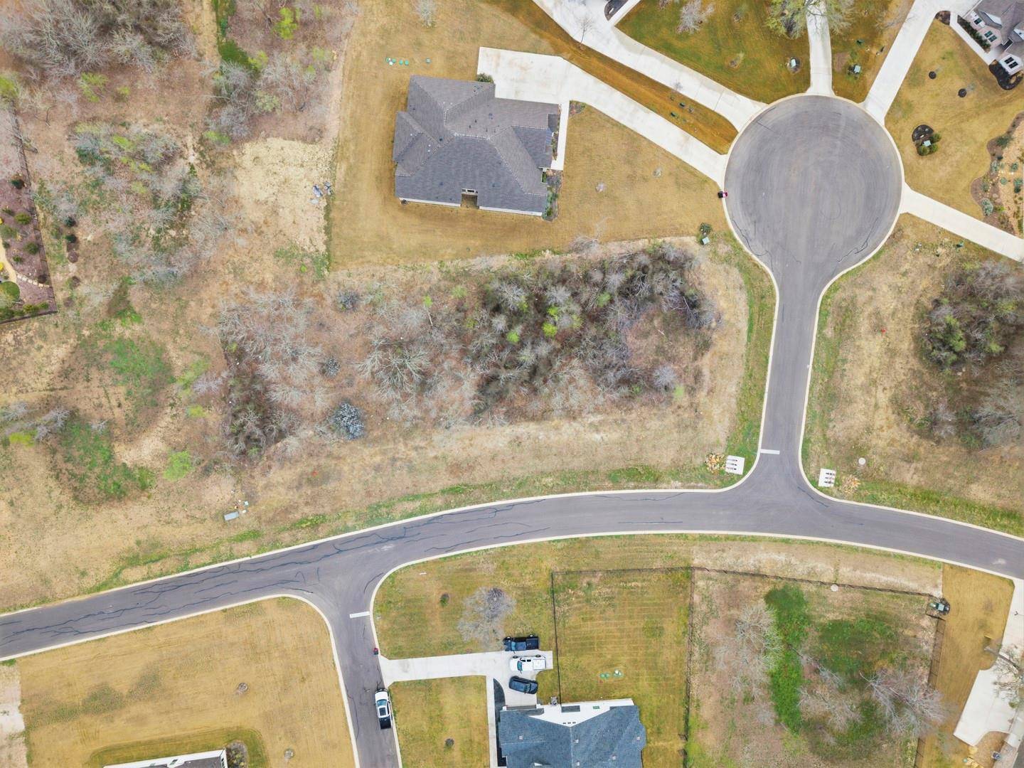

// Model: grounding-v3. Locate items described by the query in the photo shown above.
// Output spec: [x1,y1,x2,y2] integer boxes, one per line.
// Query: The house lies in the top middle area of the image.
[393,75,559,215]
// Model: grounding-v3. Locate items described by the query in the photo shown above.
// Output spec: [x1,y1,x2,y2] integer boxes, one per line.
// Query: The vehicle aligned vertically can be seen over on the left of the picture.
[373,689,392,731]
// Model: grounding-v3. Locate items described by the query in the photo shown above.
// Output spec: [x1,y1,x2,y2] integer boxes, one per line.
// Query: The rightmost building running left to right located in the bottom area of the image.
[498,698,646,768]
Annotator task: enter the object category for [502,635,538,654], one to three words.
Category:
vehicle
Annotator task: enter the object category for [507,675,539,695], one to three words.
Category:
car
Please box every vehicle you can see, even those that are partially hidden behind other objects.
[509,655,546,674]
[502,635,538,654]
[507,675,539,695]
[373,689,392,731]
